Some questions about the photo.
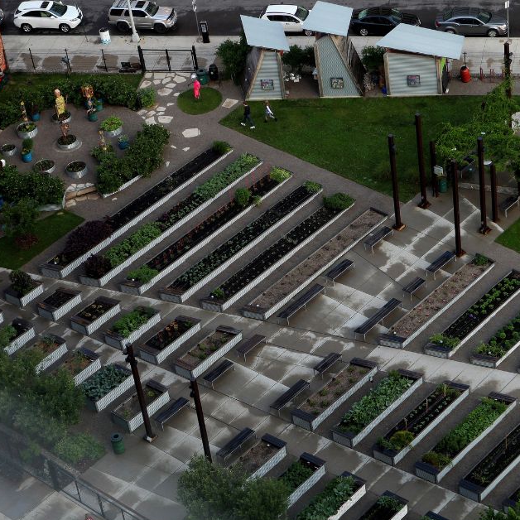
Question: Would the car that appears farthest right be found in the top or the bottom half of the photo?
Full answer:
The top half of the photo is where the car that appears farthest right is.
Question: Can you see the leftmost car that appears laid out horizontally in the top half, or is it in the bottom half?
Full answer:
The leftmost car that appears laid out horizontally sits in the top half of the picture.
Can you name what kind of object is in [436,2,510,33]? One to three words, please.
car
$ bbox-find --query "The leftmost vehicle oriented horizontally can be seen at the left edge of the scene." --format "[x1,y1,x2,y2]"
[11,0,83,31]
